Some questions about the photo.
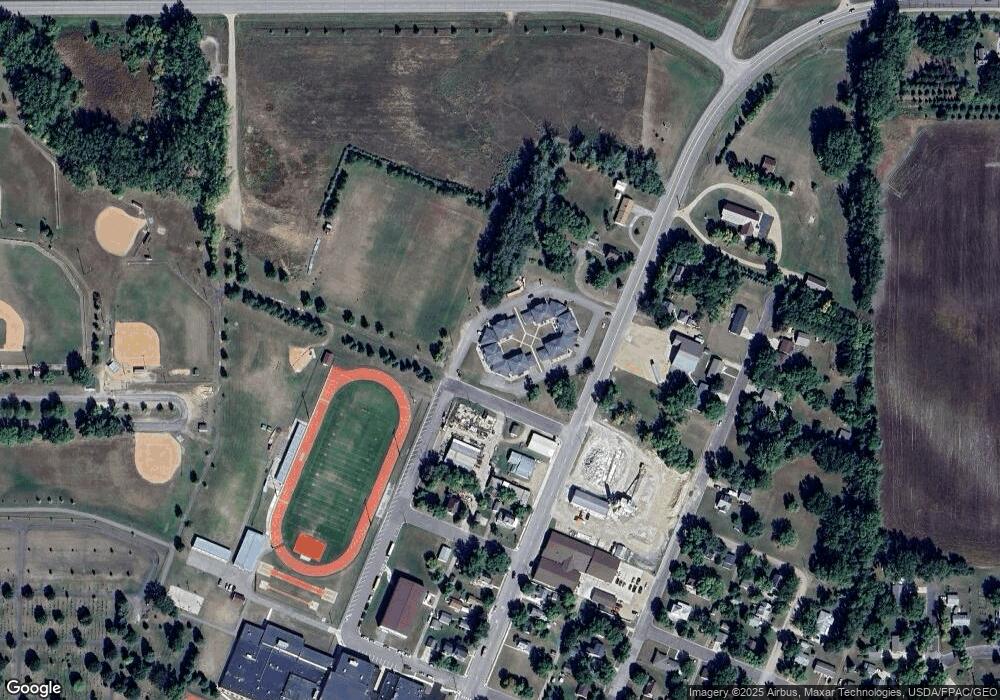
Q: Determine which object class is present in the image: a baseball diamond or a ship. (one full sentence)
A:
Looking from above, you can make out a baseball diamond.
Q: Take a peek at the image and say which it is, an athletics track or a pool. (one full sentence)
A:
This aerial view contains an athletics track.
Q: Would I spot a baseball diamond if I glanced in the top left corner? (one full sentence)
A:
Yes, there is a baseball diamond in the top left corner.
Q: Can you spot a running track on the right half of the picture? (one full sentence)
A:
No, no running track can be made out on the right half of the picture.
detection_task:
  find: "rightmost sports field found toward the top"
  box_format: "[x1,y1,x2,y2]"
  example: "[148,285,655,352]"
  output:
[322,157,482,331]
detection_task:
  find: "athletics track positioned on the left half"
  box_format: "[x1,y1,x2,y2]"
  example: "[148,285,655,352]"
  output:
[272,370,410,577]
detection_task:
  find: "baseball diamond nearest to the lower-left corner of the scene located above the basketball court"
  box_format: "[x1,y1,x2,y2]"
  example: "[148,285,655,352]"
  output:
[136,432,181,483]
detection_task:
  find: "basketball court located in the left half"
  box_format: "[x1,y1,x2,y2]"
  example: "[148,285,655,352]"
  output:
[169,585,204,615]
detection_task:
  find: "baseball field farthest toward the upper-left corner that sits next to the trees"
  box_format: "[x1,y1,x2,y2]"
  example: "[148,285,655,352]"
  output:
[0,124,56,234]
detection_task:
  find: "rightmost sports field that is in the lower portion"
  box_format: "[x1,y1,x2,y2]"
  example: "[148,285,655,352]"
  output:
[285,383,396,564]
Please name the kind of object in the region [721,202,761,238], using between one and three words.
house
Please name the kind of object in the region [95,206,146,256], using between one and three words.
baseball field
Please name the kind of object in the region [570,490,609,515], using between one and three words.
shed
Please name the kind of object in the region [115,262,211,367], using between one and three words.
baseball field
